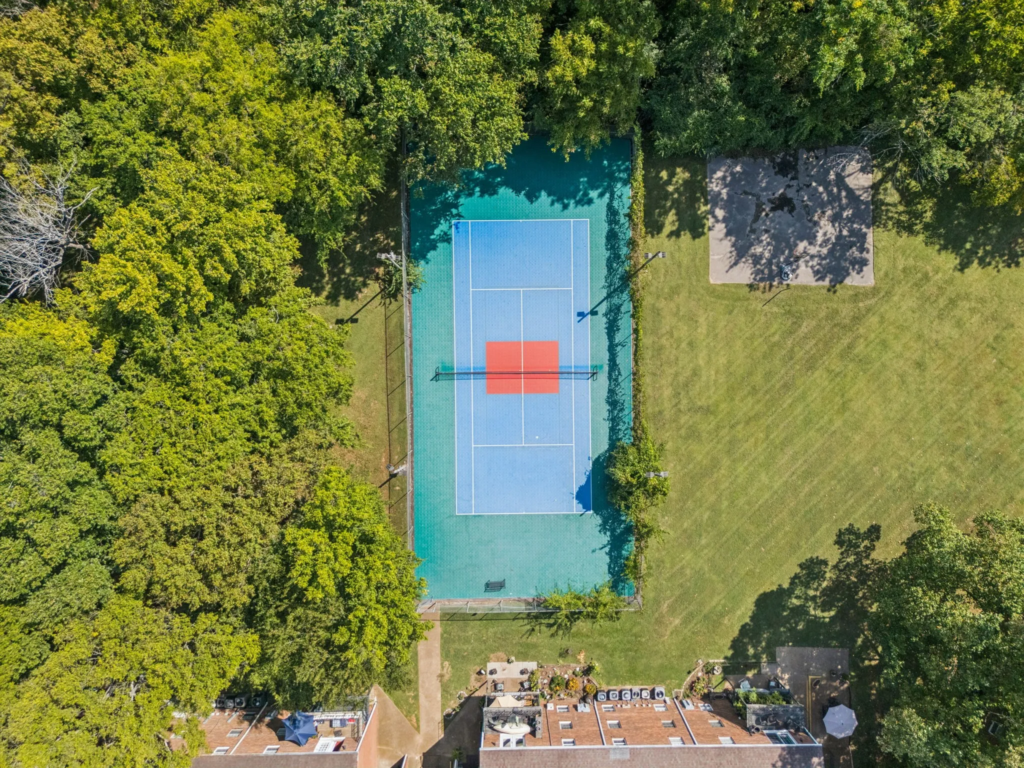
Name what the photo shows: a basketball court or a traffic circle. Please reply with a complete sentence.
The one in the frame is a basketball court.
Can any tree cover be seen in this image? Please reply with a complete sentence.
Yes, tree cover shows up in the scene.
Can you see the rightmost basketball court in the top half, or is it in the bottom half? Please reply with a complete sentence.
The top half of the photo is where the rightmost basketball court is.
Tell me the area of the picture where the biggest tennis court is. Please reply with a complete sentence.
You can find the biggest tennis court in the center area of the picture.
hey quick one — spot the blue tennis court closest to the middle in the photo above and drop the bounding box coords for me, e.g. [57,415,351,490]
[409,139,635,600]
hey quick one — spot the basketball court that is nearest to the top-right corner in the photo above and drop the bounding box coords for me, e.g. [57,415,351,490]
[707,145,875,285]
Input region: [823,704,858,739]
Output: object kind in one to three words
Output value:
umbrella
